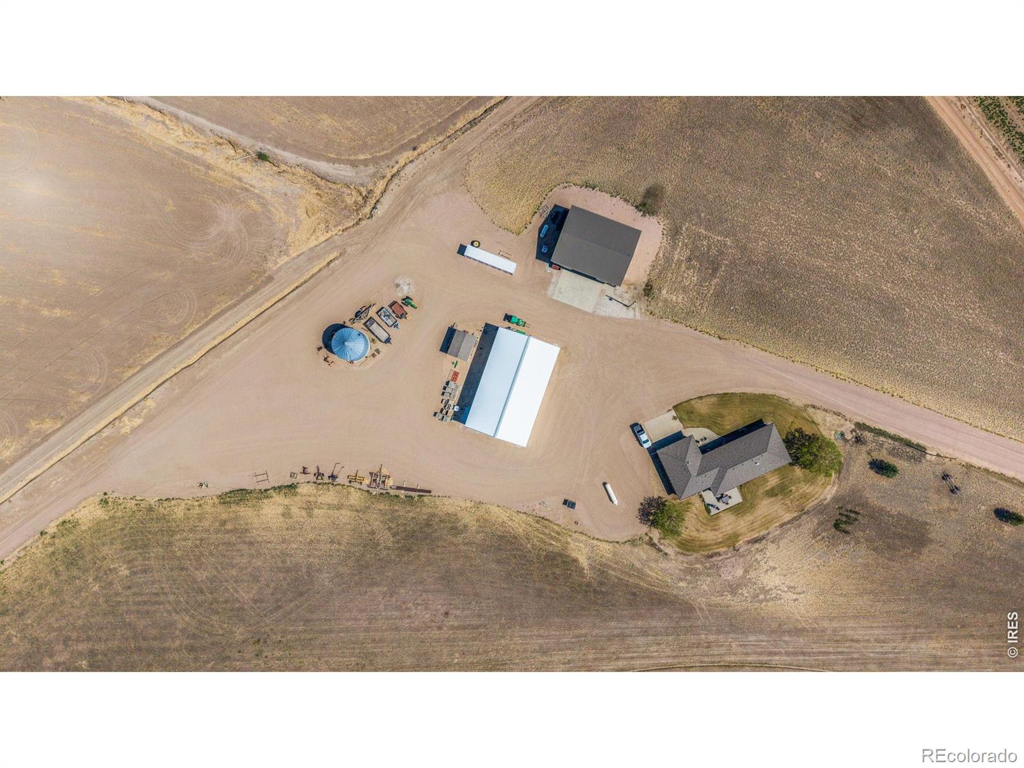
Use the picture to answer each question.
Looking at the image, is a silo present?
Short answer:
Yes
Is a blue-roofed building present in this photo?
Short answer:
No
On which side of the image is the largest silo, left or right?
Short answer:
left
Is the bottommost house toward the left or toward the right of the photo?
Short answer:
right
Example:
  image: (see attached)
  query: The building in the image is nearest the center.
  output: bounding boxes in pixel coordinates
[465,327,560,446]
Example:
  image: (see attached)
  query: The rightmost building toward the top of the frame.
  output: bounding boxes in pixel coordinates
[551,205,641,289]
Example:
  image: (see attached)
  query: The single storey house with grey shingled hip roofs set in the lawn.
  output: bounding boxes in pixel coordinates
[657,423,791,501]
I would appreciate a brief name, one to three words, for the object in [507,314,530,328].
work vehicle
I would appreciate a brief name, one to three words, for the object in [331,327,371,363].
silo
